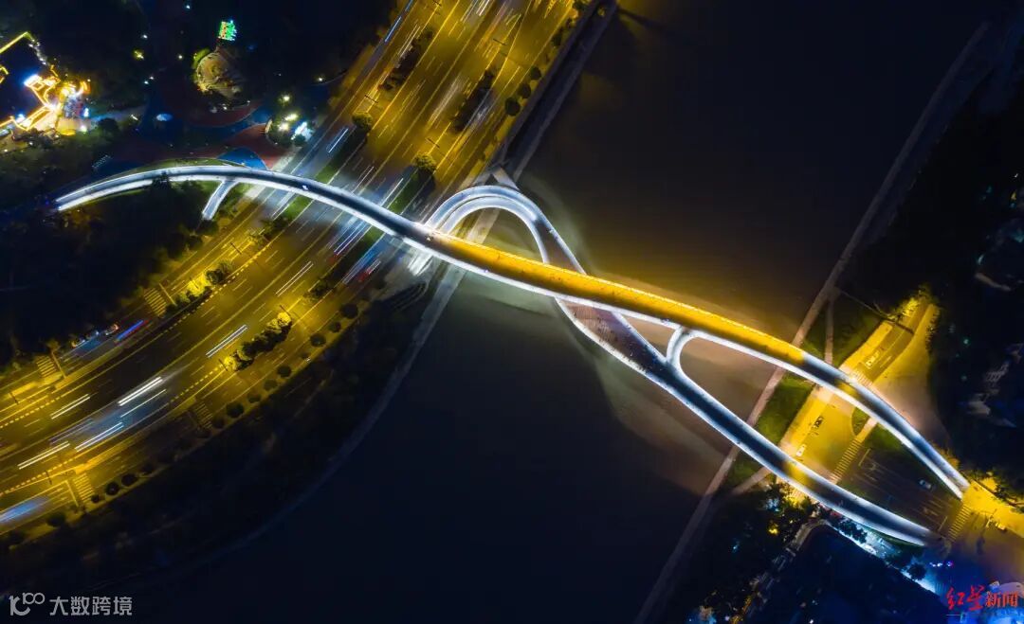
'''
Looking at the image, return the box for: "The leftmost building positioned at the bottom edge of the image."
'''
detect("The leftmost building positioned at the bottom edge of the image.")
[719,503,950,624]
